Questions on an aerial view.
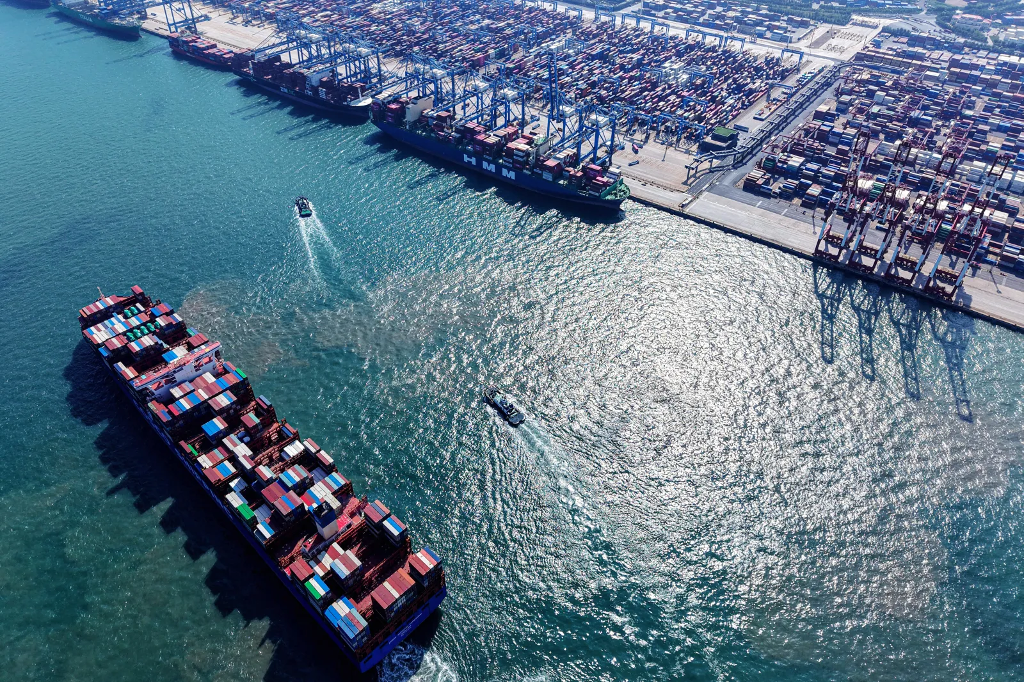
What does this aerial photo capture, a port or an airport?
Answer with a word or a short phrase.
port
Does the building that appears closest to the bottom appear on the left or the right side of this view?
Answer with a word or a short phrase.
right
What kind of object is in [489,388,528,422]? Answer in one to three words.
boat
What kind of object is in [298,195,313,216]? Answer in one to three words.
boat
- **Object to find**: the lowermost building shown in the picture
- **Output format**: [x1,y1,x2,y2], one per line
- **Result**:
[702,124,737,151]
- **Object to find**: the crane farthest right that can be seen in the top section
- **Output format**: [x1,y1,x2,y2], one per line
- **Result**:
[922,174,1002,300]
